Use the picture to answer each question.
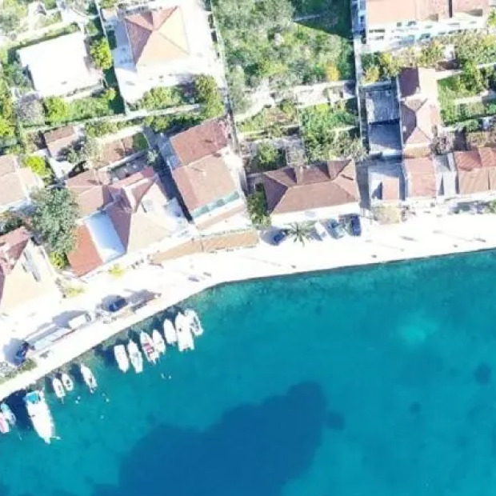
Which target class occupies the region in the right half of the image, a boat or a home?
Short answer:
home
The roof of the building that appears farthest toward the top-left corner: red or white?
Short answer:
white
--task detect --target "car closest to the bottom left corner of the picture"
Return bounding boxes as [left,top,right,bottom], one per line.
[12,341,31,363]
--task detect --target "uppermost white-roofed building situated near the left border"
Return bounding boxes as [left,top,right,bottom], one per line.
[19,31,106,105]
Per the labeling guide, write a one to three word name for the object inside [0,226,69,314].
house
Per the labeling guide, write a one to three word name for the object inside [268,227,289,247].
car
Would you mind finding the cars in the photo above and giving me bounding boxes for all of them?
[103,292,127,312]
[312,220,330,242]
[12,341,31,363]
[268,227,289,247]
[328,216,345,241]
[350,211,361,236]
